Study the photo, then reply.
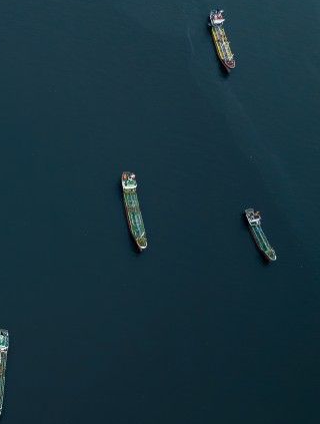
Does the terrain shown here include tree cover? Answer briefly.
No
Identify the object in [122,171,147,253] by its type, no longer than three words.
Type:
ship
